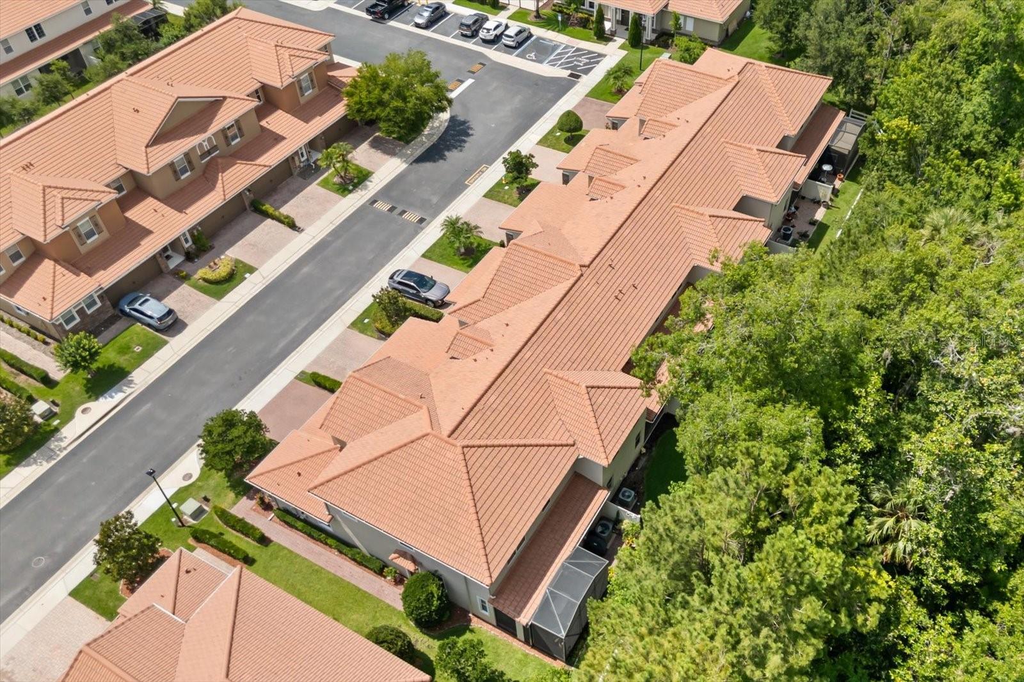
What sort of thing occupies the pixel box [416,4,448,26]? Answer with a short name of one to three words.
car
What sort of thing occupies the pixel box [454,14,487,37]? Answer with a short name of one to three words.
car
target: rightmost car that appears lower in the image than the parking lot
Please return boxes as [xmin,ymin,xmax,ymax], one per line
[385,265,446,304]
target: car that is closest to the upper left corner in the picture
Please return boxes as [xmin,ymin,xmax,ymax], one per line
[119,292,177,329]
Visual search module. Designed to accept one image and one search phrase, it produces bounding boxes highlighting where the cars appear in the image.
[385,265,446,304]
[499,27,528,47]
[119,292,177,329]
[369,0,408,18]
[454,14,487,37]
[476,20,508,42]
[416,4,448,26]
